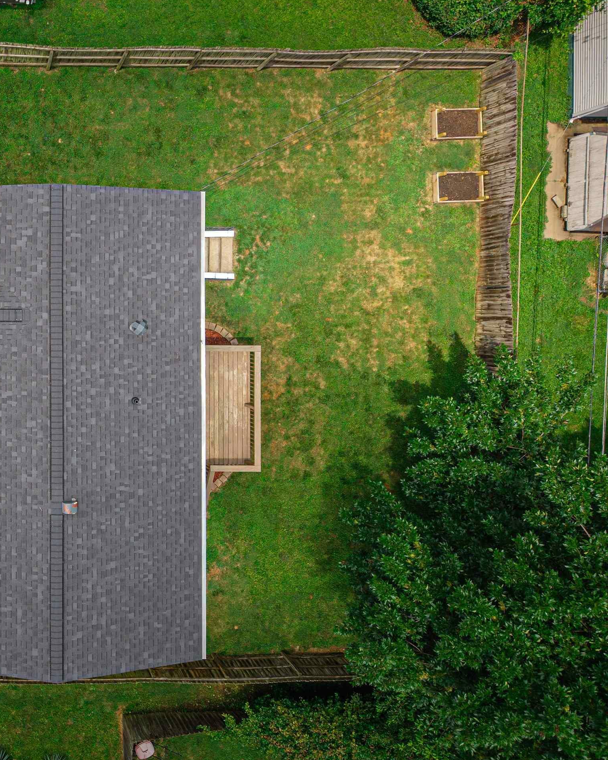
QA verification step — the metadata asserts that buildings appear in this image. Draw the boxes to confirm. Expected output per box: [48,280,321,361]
[557,0,608,127]
[552,134,608,230]
[0,184,206,681]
